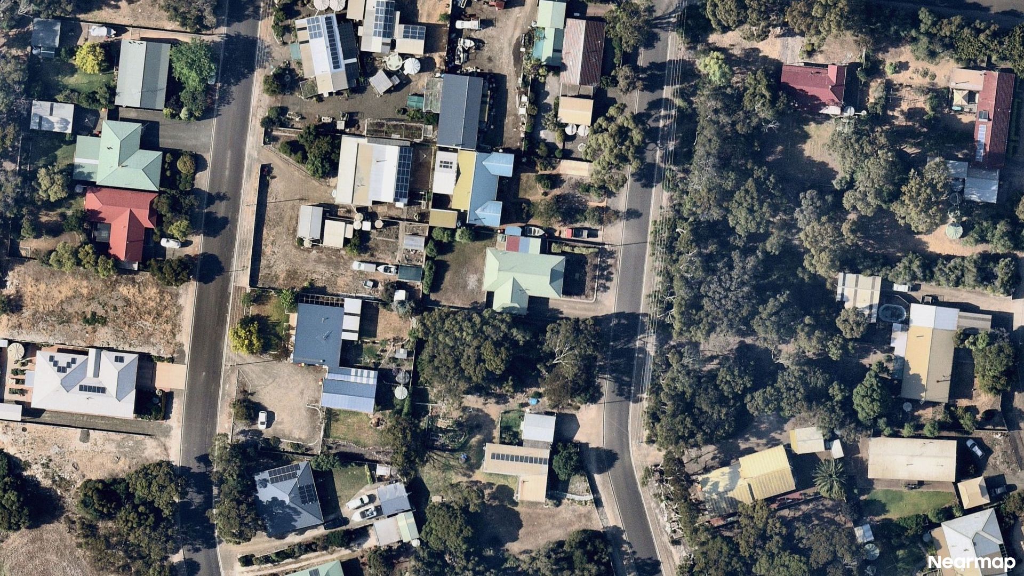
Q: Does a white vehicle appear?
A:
Yes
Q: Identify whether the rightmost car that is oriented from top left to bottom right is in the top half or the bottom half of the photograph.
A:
bottom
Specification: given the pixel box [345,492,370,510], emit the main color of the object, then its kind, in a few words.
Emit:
white vehicle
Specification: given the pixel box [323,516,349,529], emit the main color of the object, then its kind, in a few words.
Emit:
black vehicle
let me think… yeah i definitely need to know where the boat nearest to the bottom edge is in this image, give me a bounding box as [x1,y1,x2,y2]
[352,507,378,521]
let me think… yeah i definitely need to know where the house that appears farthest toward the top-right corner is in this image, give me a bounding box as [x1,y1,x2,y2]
[950,68,1015,169]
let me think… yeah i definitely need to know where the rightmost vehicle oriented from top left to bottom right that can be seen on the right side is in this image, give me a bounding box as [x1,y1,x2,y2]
[966,438,986,460]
